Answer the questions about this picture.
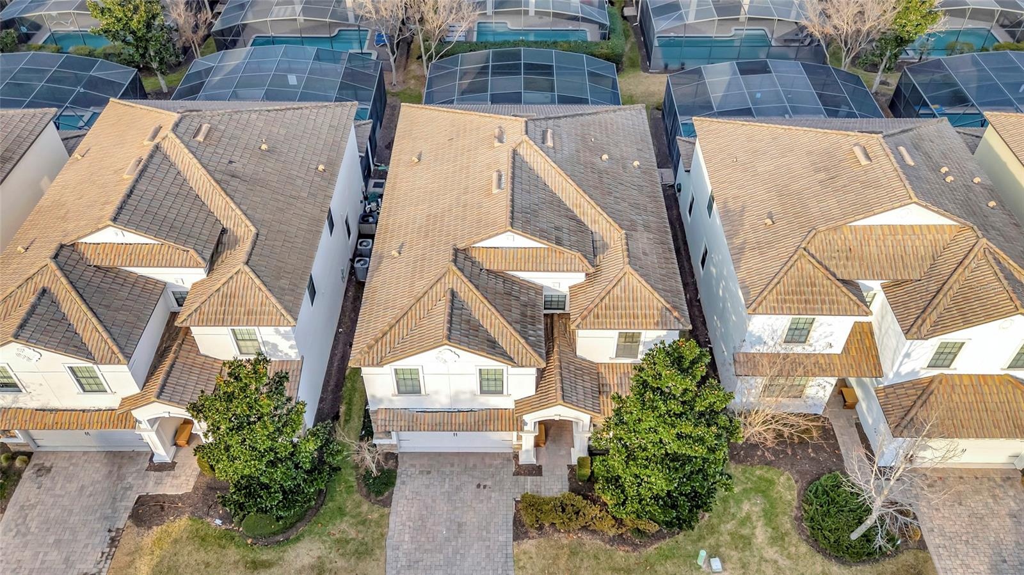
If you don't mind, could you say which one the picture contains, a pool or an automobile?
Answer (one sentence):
I can see a pool in this picture.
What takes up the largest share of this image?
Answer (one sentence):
Most of the picture is covered by buildings.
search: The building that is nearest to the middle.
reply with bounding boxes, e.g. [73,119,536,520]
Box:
[348,102,693,464]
